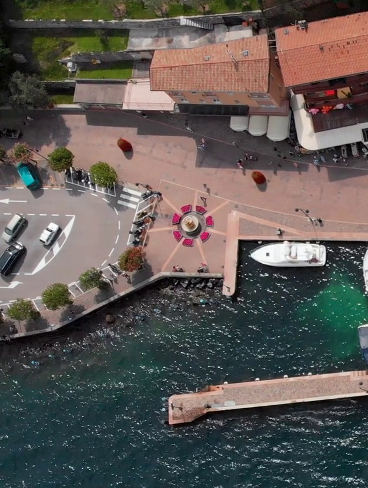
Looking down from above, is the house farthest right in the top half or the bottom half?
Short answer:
top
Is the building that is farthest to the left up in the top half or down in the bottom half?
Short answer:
top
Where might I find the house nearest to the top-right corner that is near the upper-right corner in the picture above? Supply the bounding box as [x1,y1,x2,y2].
[275,11,368,102]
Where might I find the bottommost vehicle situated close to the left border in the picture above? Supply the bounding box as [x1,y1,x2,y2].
[0,240,29,275]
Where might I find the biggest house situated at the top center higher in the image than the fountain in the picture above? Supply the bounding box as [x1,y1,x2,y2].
[149,34,289,120]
